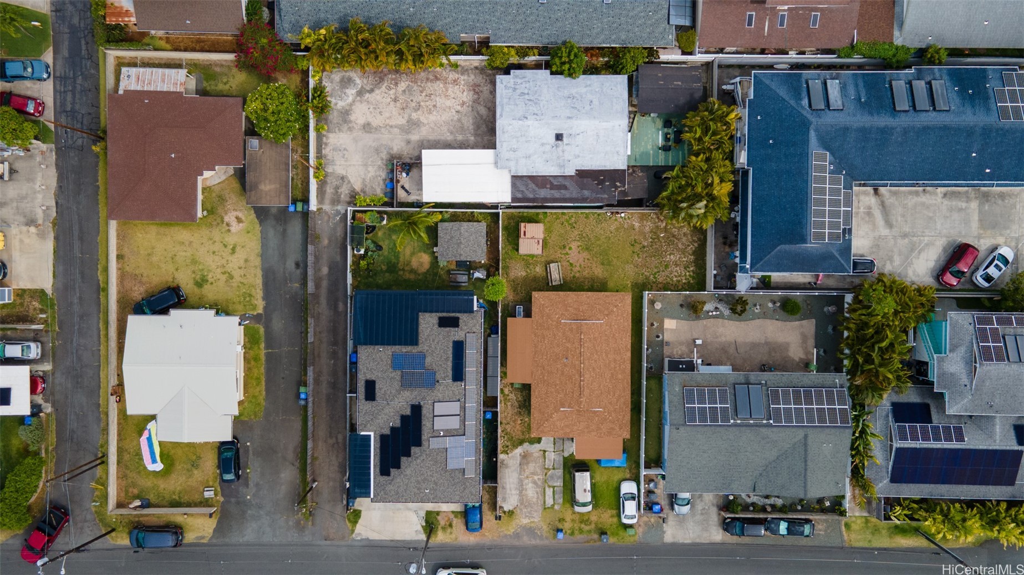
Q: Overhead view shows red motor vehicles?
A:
Yes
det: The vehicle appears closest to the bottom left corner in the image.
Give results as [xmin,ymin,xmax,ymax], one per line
[23,504,72,563]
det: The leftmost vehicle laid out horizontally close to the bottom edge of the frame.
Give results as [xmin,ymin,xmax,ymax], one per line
[131,524,185,549]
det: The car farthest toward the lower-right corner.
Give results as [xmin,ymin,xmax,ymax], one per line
[766,516,815,540]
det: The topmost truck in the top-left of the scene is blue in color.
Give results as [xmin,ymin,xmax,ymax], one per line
[0,58,53,83]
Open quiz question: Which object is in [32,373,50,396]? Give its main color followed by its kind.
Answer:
red car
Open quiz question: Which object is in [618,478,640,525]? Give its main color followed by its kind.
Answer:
white car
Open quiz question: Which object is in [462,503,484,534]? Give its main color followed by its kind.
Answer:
blue car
